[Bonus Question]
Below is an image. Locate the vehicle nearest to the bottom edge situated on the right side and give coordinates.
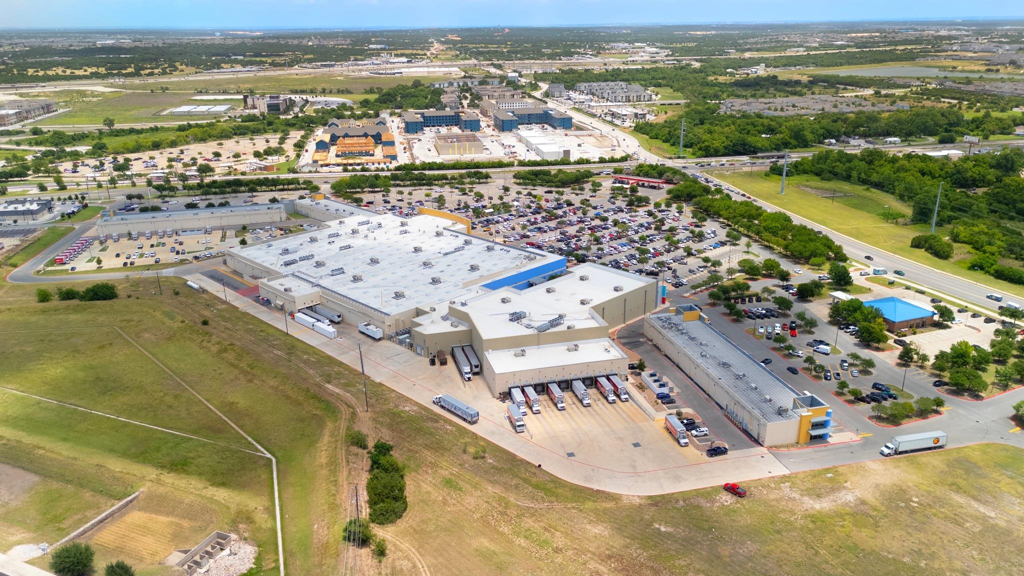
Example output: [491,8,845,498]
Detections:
[723,483,747,496]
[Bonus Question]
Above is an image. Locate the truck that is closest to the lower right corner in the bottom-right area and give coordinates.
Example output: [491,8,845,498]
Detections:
[881,432,954,457]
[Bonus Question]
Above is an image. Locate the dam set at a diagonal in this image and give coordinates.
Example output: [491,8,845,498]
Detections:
[166,530,227,576]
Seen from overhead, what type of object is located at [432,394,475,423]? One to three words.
truck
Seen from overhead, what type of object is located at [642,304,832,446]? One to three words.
building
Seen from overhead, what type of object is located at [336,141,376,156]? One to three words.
house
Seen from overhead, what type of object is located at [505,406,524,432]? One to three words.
vehicle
